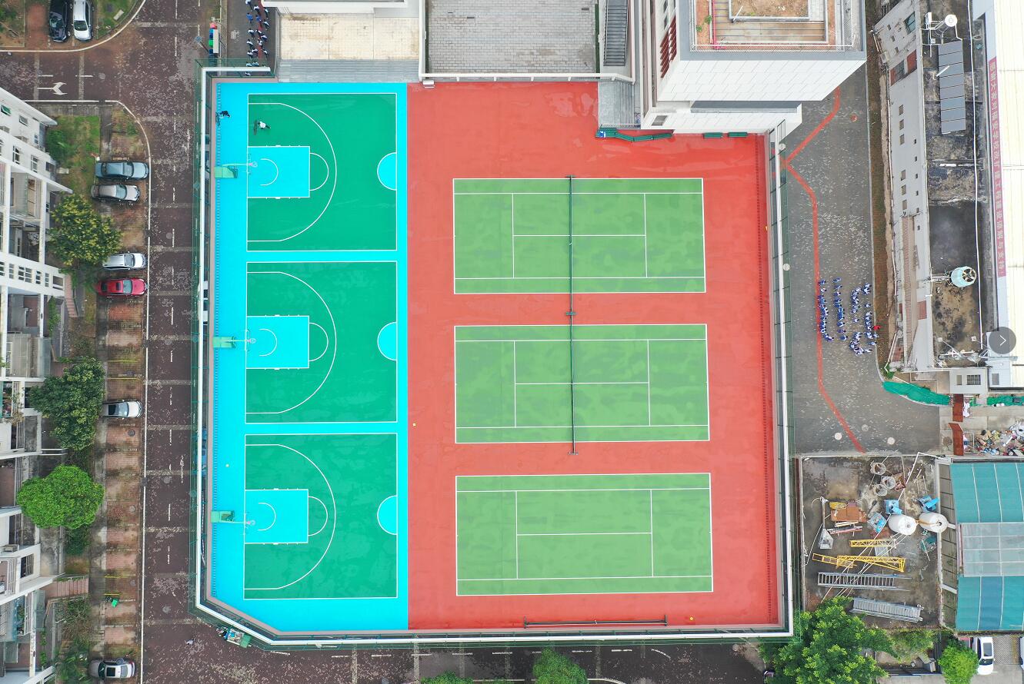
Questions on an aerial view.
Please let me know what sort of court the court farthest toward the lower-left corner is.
basketball court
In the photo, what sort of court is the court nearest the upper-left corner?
basketball court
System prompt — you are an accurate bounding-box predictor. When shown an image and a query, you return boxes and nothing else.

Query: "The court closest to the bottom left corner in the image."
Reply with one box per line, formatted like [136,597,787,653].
[243,433,398,601]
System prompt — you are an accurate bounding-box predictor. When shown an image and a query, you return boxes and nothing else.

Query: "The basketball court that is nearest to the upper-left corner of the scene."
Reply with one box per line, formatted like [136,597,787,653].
[246,93,397,251]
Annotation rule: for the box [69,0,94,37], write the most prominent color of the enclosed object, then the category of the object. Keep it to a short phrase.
white car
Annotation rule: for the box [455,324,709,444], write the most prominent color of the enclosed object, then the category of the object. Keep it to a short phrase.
green tennis court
